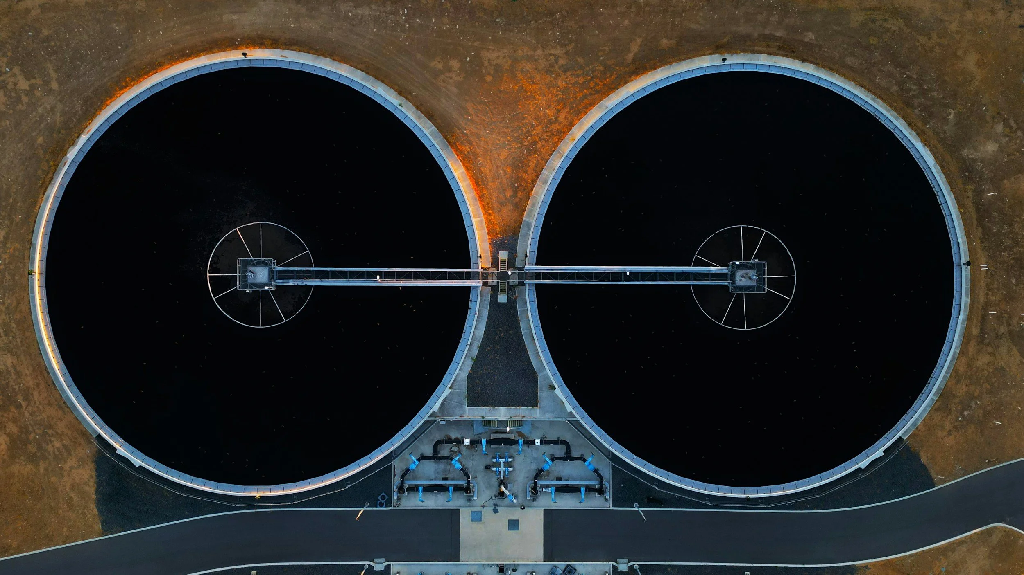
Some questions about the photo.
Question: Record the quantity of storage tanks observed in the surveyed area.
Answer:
2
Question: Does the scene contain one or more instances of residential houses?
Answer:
No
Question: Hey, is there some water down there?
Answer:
Yes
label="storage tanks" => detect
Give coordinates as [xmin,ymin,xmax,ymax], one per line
[526,61,966,498]
[34,56,481,496]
